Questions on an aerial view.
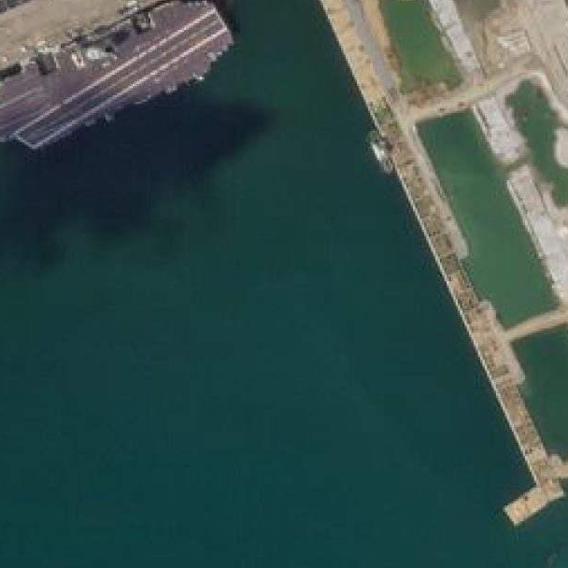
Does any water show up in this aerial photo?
Yes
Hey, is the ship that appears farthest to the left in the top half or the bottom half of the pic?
top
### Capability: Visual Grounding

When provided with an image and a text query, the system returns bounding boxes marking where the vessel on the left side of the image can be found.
[0,0,236,151]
